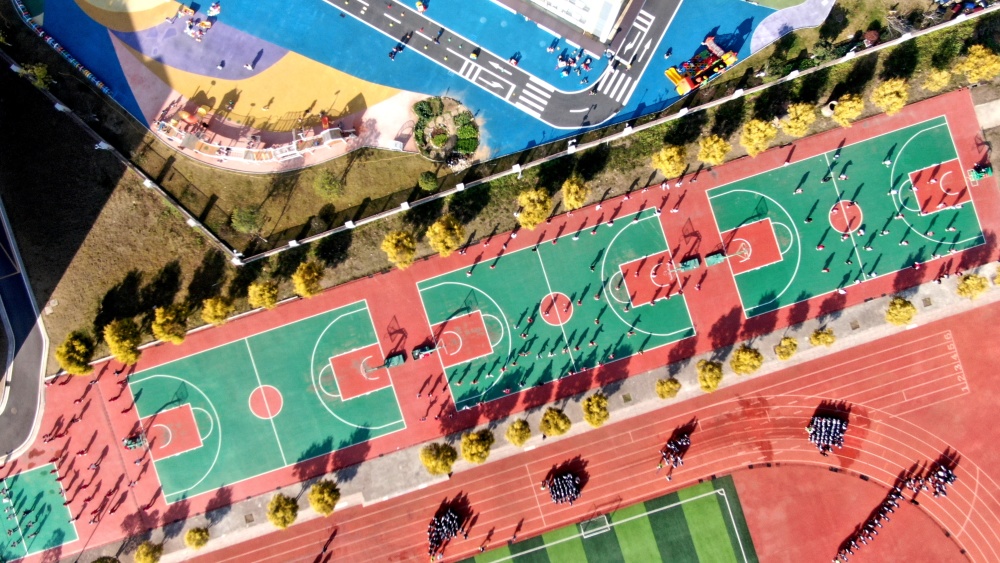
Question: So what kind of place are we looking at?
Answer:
sports ground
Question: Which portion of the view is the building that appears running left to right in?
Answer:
top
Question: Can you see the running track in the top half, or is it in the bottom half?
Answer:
bottom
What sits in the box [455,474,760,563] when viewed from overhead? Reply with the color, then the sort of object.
green sports field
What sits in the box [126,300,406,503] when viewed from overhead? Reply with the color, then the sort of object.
green basketball court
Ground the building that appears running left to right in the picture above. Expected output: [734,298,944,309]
[520,0,623,44]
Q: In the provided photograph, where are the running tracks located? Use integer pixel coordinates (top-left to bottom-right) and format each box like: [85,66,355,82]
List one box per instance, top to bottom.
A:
[180,303,1000,563]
